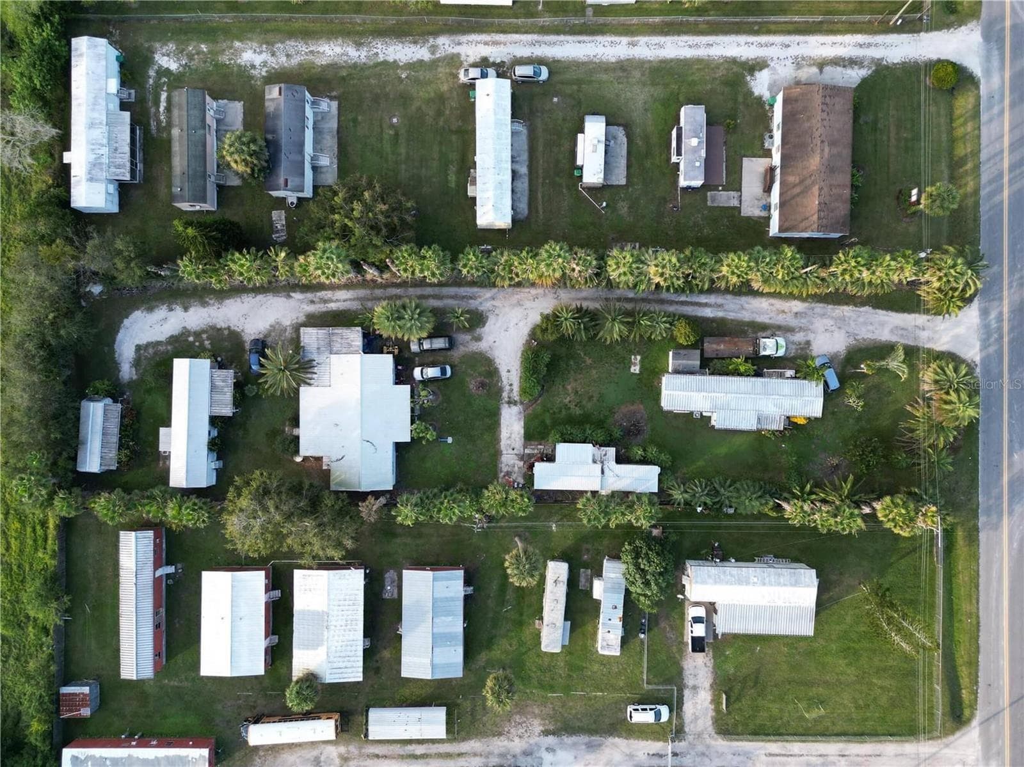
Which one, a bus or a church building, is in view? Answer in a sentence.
It is a bus that can be seen here.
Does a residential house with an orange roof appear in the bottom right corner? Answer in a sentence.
No, I see no residential house with an orange roof in the bottom right corner.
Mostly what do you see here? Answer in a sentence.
Most of the picture is covered by grass.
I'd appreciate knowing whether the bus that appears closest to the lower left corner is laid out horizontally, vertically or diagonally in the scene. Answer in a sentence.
In this picture, the bus that appears closest to the lower left corner is oriented horizontally.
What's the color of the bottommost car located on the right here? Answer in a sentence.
In this view, the bottommost car located on the right is white.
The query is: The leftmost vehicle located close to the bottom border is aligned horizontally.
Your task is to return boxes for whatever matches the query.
[242,717,340,754]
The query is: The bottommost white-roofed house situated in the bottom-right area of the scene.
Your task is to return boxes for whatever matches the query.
[685,561,822,637]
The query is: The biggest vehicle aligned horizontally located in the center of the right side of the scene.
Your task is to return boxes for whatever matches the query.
[706,335,785,358]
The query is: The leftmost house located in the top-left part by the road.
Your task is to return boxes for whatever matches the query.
[63,35,151,211]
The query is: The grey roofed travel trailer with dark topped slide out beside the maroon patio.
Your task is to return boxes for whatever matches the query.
[670,107,704,197]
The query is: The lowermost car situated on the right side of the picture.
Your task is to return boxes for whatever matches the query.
[627,704,668,726]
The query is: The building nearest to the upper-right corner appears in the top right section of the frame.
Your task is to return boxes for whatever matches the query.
[772,85,854,237]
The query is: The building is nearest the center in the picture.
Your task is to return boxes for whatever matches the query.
[534,443,602,491]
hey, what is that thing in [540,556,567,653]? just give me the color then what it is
white trailer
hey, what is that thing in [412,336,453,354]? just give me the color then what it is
gray car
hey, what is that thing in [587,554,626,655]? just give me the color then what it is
white trailer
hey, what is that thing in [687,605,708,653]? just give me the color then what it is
white vehicle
